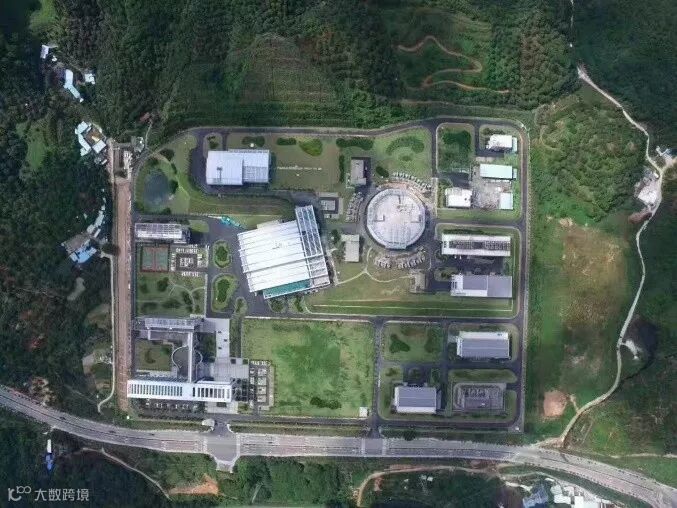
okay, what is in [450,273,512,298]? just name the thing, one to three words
building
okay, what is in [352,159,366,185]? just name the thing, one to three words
building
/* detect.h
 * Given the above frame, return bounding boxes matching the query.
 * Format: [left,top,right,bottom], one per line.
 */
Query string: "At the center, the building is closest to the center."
[341,234,359,261]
